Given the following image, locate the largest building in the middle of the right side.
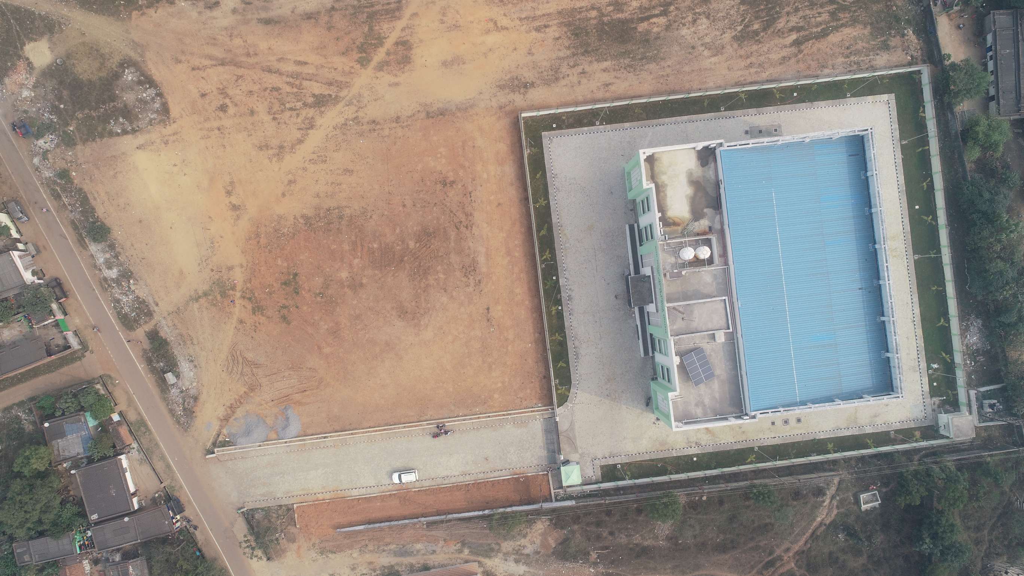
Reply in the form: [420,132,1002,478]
[619,125,910,431]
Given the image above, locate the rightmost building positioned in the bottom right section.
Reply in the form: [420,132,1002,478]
[941,410,975,439]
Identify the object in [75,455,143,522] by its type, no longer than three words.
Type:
house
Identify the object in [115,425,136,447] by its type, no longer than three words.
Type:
shed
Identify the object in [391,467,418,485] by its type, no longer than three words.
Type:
car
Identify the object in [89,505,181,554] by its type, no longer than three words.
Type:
house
